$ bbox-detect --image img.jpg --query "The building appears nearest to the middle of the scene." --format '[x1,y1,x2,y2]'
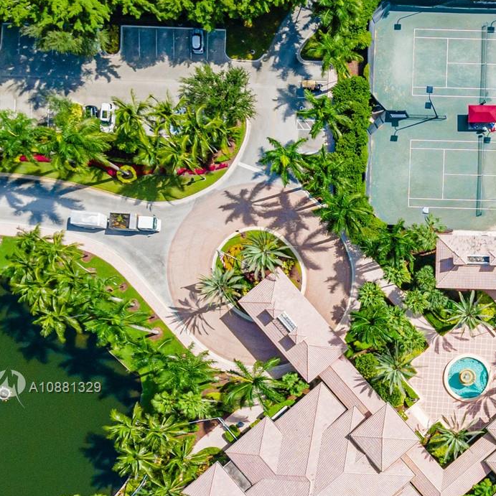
[238,272,348,383]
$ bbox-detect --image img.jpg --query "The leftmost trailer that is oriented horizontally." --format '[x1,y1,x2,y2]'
[65,211,105,229]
